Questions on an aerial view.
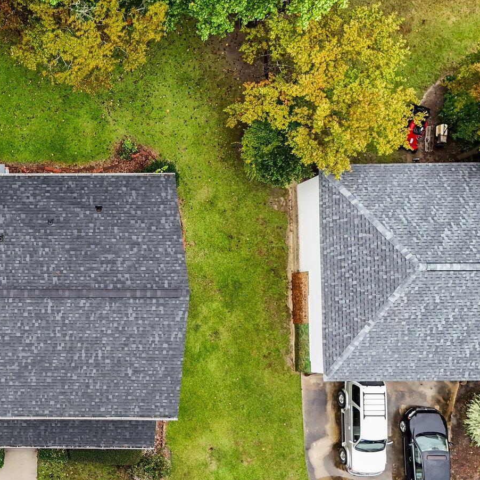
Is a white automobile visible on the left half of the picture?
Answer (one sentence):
No, no white automobile appears on the left half of the picture.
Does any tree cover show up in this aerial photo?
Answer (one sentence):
Yes, there is tree cover in the image.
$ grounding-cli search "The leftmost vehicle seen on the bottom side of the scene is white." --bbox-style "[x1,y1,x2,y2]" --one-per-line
[340,380,396,476]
